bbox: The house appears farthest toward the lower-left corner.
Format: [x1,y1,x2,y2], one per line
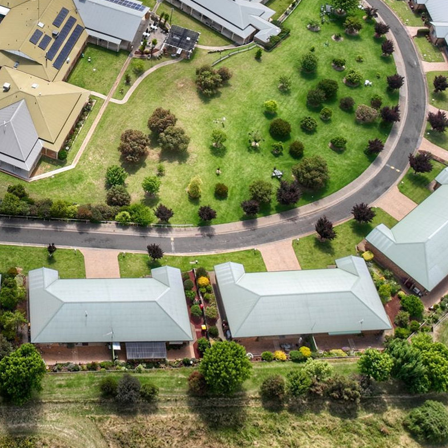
[27,265,193,363]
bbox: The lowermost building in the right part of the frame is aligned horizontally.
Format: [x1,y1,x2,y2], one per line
[210,255,392,342]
